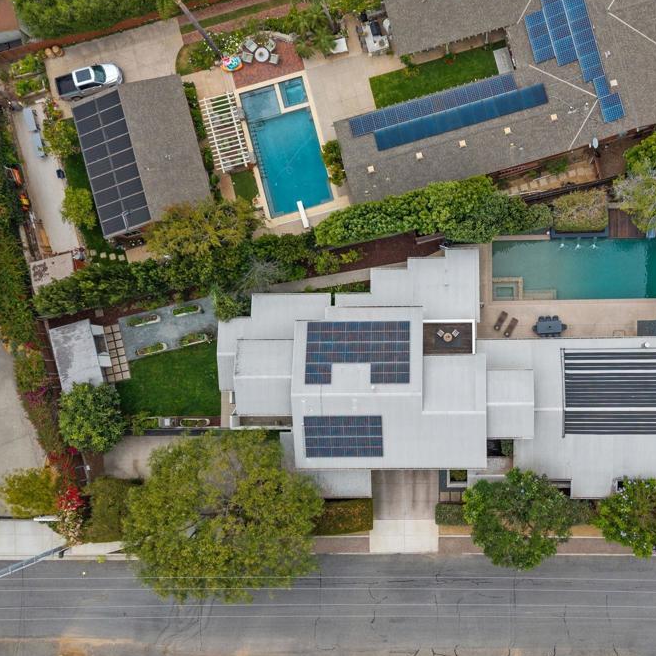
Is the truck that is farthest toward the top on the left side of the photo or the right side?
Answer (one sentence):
The truck that is farthest toward the top appears in the left half of the scene.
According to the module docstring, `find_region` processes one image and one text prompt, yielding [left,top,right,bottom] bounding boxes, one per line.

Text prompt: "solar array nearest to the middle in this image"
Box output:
[305,322,410,384]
